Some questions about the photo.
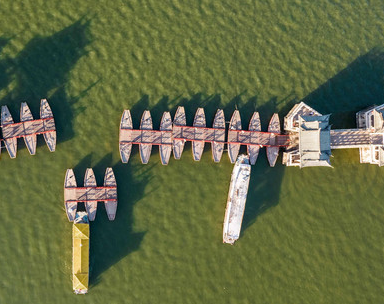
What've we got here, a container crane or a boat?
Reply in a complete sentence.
It is a boat that can be seen here.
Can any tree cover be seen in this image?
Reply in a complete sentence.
No, the scene doesn't show any tree cover.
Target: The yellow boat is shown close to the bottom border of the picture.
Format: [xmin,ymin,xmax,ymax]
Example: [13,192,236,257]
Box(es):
[72,212,90,295]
